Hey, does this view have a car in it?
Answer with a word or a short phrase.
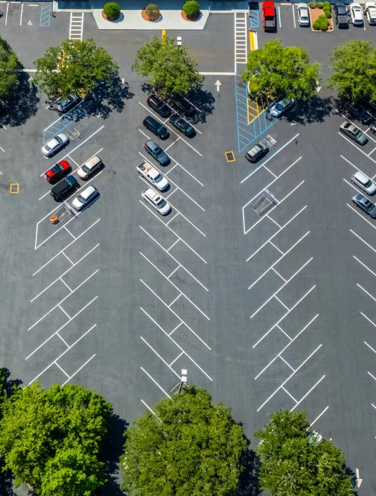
Yes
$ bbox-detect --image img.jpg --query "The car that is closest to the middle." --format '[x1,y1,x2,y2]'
[140,185,171,216]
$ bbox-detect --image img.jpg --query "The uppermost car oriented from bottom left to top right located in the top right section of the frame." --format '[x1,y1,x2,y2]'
[267,93,298,120]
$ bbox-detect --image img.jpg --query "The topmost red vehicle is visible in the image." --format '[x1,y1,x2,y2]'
[262,0,276,29]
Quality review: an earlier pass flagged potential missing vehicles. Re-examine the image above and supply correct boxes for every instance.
[349,169,376,197]
[140,185,171,216]
[337,119,369,146]
[143,92,173,121]
[262,0,276,29]
[142,115,169,140]
[267,93,298,120]
[73,185,101,212]
[349,2,365,27]
[333,0,350,28]
[133,158,171,194]
[39,133,70,159]
[44,161,69,183]
[243,139,272,163]
[167,113,198,140]
[168,92,196,118]
[55,94,81,114]
[76,153,104,179]
[297,3,310,27]
[141,138,171,168]
[341,100,373,125]
[349,190,376,222]
[366,120,376,137]
[363,2,376,27]
[50,175,77,199]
